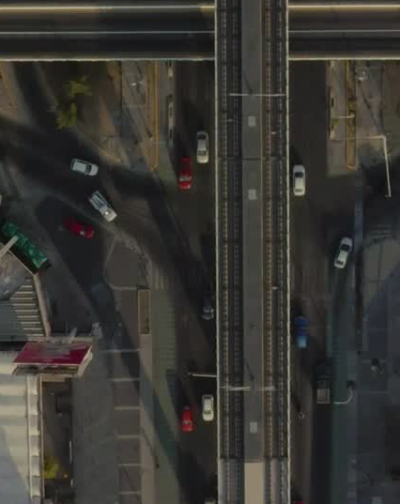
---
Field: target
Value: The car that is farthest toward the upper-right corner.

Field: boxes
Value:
[291,164,305,195]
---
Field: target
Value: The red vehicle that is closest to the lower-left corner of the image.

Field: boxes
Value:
[179,404,194,430]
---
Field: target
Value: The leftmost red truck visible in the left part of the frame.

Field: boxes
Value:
[61,216,95,239]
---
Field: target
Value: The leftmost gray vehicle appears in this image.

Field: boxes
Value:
[69,158,99,177]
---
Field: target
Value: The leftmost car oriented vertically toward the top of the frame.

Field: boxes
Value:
[177,156,191,189]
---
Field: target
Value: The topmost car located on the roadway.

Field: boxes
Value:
[195,130,209,162]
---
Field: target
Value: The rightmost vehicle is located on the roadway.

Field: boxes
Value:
[334,236,352,268]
